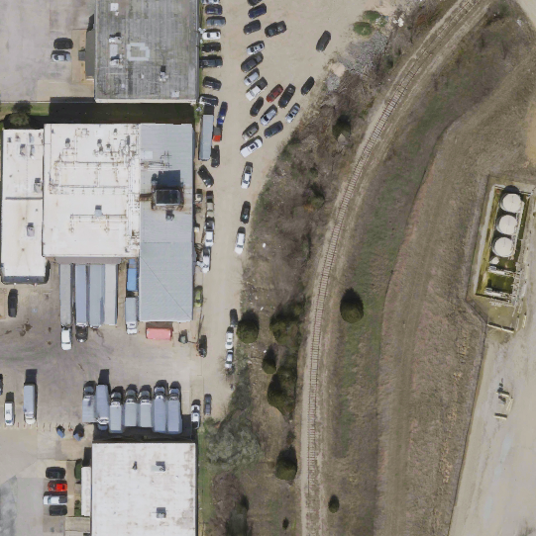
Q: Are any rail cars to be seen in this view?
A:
No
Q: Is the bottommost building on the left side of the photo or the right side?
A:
left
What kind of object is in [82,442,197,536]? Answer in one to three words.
building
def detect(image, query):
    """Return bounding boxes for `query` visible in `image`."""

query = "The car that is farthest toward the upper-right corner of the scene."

[316,31,332,52]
